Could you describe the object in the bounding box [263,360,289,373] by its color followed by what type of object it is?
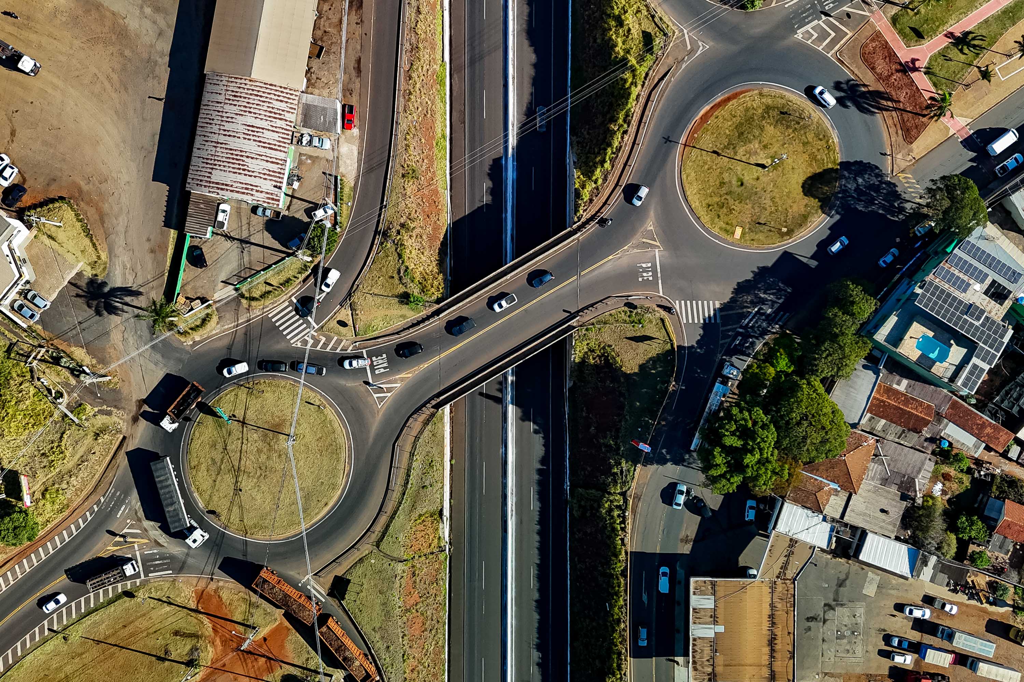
black vehicle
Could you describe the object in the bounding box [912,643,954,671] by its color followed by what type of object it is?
white truck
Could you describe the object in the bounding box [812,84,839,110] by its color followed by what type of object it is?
white car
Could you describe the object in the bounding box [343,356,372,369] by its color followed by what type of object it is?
white vehicle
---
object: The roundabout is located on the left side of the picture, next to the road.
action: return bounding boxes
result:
[149,341,385,576]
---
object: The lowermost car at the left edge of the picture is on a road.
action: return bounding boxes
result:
[41,593,68,615]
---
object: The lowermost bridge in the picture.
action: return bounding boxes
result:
[422,220,615,403]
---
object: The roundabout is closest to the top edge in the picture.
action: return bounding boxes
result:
[632,39,885,293]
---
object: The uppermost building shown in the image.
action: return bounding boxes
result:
[205,0,316,95]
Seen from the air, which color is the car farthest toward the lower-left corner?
white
